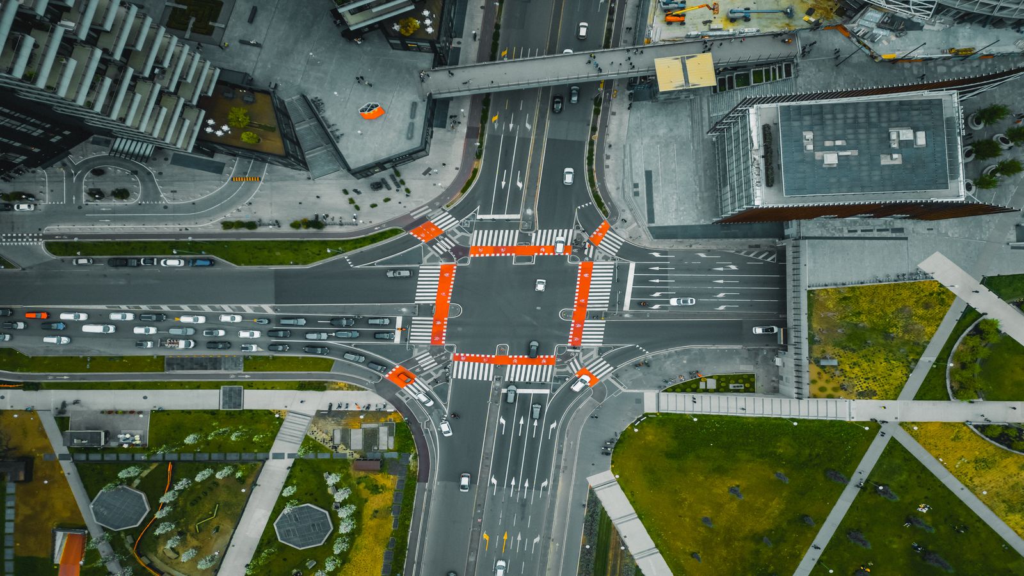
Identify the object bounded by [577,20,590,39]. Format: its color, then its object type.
white vehicle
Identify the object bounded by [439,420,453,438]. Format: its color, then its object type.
white car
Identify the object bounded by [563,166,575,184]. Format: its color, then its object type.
white vehicle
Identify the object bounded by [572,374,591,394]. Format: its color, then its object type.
white car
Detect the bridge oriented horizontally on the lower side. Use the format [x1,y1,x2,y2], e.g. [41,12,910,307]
[644,392,849,421]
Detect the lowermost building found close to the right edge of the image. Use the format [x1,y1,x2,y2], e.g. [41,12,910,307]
[698,63,1024,225]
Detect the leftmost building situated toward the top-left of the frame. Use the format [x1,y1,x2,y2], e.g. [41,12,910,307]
[0,0,221,160]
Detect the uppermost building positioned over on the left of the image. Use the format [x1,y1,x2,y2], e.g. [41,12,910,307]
[333,0,449,63]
